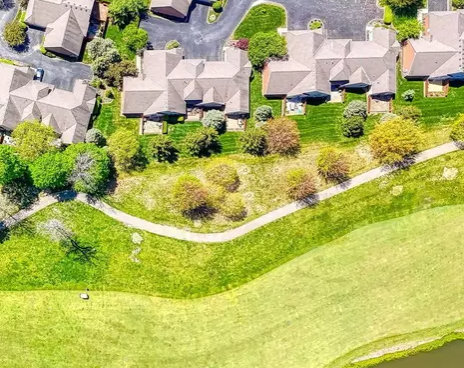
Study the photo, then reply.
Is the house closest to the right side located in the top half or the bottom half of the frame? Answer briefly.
top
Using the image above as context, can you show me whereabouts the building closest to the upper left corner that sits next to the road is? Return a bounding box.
[16,0,110,58]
